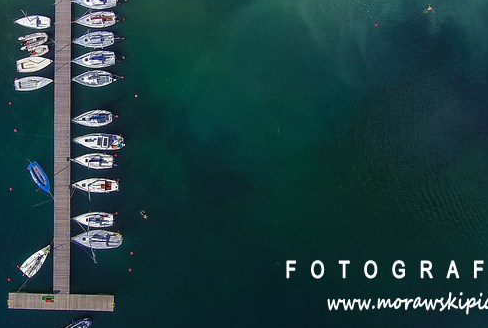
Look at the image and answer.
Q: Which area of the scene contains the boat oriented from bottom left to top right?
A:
bottom left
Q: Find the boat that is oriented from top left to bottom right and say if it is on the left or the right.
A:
left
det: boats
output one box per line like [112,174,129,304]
[71,30,117,50]
[71,50,118,69]
[72,132,127,152]
[15,56,55,72]
[13,76,53,90]
[28,161,54,199]
[14,13,53,30]
[73,212,116,237]
[22,45,49,58]
[70,109,115,128]
[20,33,48,48]
[71,230,126,262]
[70,0,120,11]
[72,71,120,88]
[18,240,54,288]
[70,178,121,198]
[74,9,118,29]
[70,151,116,170]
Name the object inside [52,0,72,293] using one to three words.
pier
